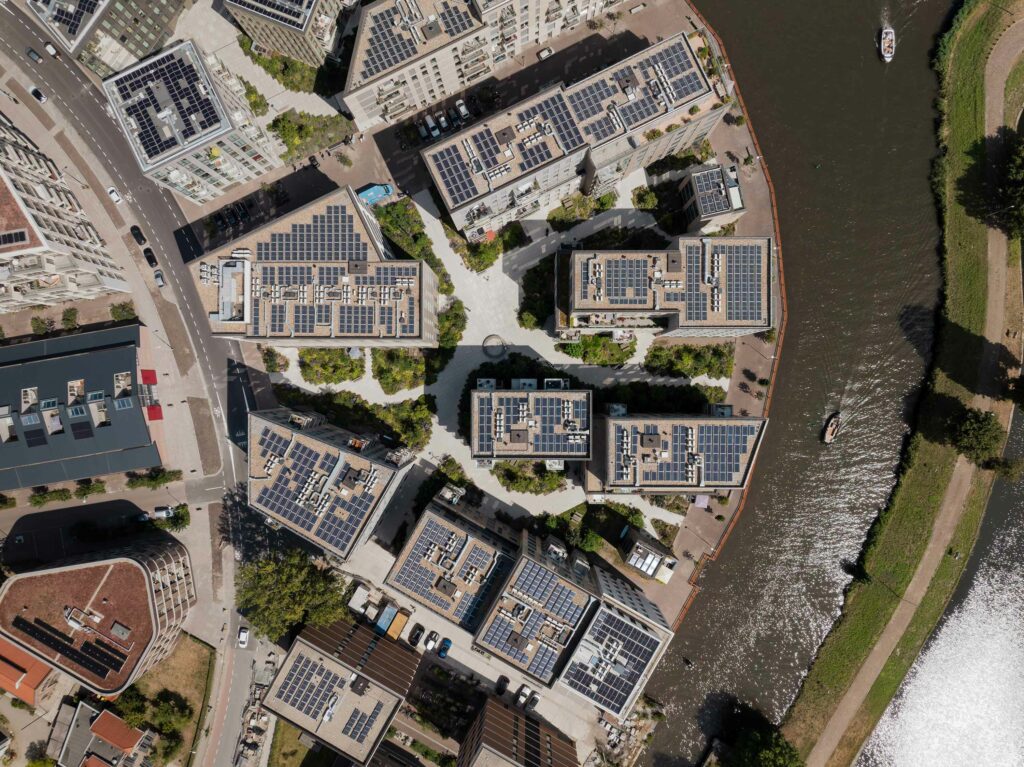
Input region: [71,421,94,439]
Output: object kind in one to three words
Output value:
solar panel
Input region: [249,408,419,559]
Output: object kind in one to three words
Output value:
building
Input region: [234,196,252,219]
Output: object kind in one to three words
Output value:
car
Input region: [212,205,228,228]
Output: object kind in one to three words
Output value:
car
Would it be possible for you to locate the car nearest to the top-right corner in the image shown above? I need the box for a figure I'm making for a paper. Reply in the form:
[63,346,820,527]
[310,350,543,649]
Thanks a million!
[533,46,556,63]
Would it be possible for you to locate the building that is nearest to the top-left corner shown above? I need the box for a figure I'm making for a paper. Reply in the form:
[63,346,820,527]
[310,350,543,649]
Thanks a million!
[26,0,172,80]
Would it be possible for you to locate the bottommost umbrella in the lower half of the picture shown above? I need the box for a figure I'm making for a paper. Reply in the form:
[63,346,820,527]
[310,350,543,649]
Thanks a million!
[697,496,710,509]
